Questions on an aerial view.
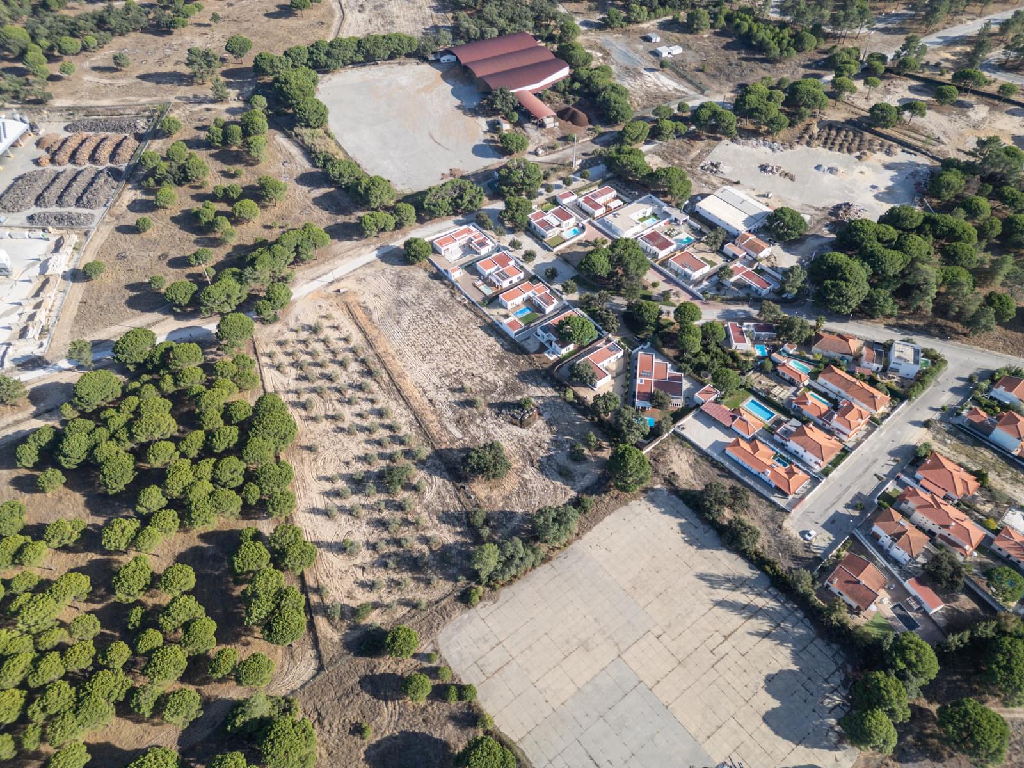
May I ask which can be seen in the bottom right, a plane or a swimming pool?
swimming pool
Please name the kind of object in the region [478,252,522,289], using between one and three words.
house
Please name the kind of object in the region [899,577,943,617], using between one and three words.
shed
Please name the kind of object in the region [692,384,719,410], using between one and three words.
building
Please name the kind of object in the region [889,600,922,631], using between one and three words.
swimming pool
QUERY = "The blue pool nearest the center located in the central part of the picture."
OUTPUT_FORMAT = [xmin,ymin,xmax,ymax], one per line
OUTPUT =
[512,305,534,319]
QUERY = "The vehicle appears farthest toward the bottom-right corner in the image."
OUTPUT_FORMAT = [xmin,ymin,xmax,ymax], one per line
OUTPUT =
[803,529,817,542]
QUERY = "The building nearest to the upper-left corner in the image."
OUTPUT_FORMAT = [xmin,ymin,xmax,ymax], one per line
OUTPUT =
[0,118,35,169]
